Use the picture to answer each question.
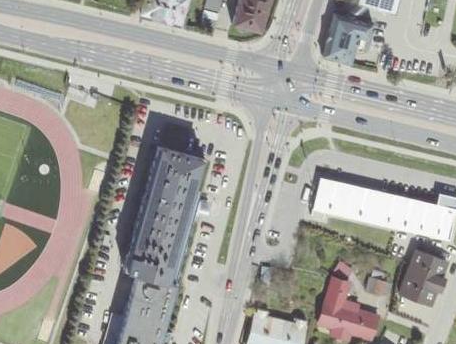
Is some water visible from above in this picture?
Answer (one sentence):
No, there's no water in this view.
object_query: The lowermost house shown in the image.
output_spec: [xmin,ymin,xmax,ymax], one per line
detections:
[247,309,307,344]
